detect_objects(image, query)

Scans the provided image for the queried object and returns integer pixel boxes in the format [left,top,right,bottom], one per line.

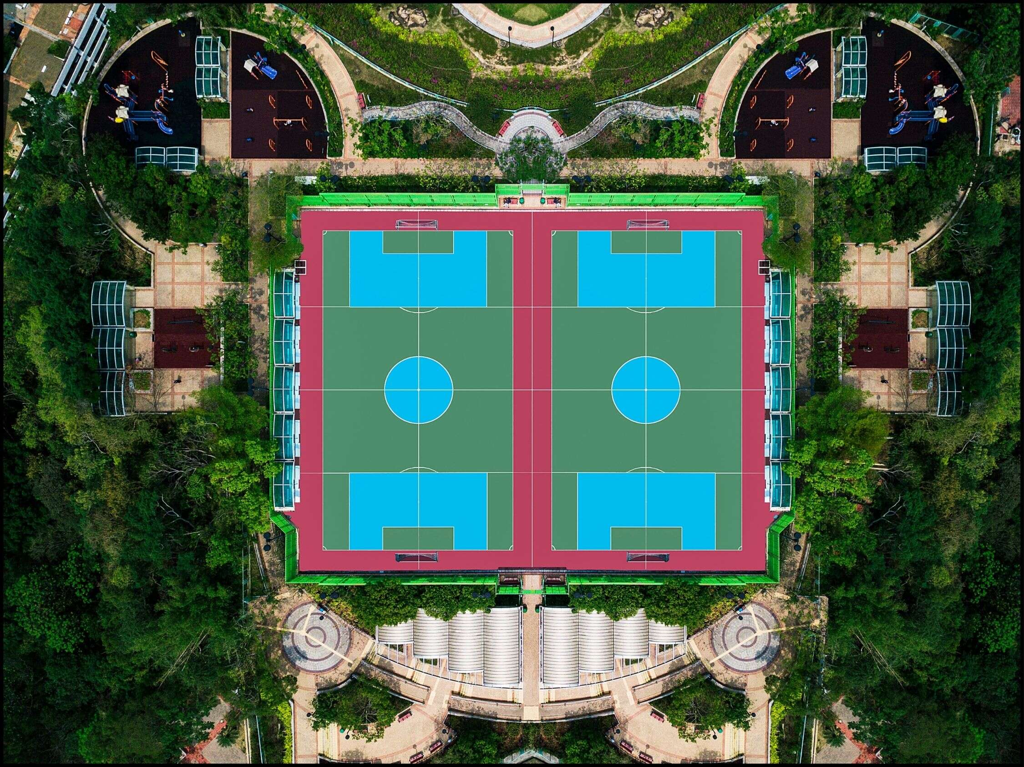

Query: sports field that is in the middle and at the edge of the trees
[323,231,742,550]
